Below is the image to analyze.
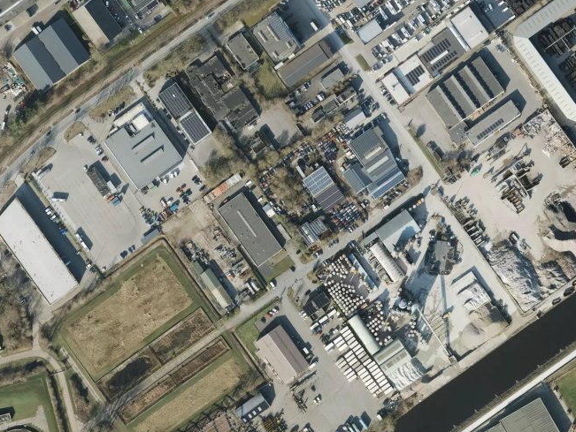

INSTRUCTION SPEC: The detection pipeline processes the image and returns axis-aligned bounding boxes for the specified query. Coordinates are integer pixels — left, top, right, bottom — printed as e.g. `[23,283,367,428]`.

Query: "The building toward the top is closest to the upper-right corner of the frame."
[474,0,515,34]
